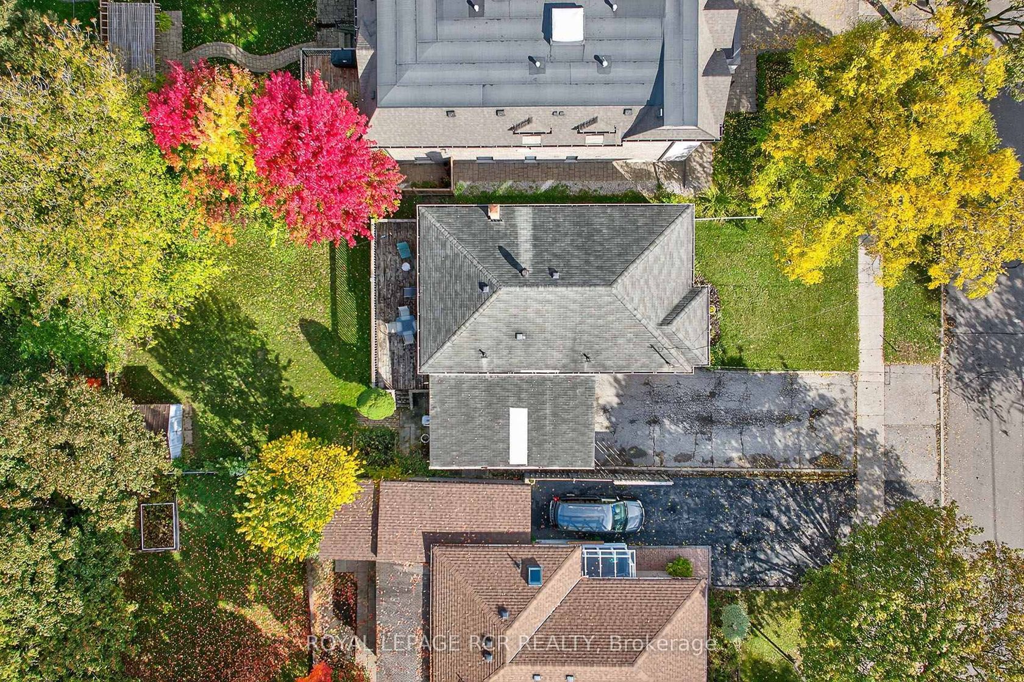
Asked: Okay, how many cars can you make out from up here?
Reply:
one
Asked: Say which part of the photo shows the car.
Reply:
bottom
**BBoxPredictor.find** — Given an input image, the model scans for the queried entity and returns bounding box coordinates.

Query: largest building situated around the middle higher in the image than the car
[416,202,712,469]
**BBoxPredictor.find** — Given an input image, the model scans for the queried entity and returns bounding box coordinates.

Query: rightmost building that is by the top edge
[350,0,746,163]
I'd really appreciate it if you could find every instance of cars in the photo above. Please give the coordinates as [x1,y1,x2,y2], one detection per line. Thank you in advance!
[550,494,642,538]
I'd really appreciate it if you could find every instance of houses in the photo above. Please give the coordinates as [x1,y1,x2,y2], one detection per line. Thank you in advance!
[350,0,746,163]
[318,478,709,682]
[416,202,712,469]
